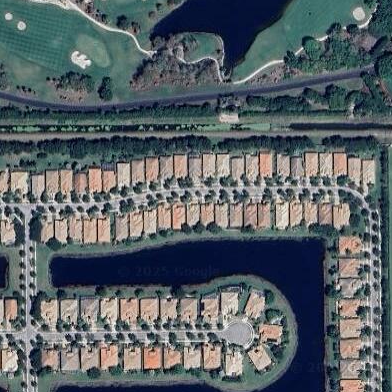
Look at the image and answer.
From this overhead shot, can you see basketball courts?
No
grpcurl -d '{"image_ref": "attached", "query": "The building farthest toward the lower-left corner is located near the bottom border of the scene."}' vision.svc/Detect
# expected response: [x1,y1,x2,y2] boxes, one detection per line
[2,350,18,372]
